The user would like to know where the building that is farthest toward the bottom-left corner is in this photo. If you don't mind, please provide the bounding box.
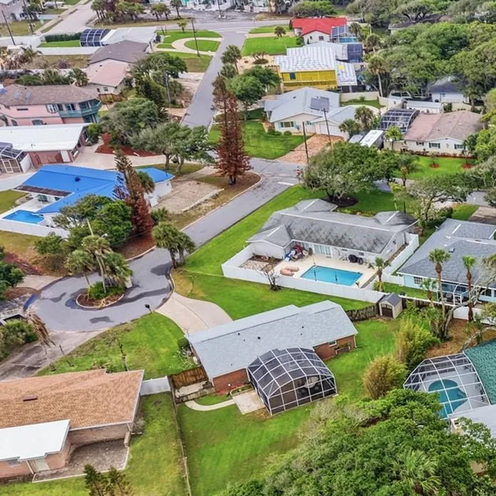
[0,371,140,477]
